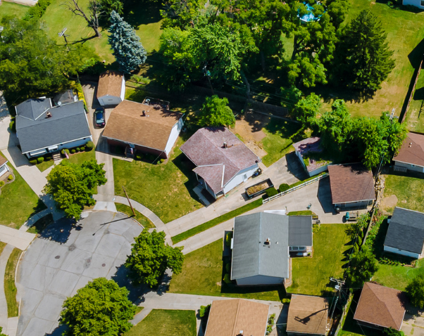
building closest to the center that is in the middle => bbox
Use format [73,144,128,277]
[183,124,260,206]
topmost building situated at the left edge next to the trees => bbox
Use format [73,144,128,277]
[14,97,93,162]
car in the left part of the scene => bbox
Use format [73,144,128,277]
[92,104,104,126]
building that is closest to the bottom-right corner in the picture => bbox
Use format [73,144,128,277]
[353,282,406,331]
